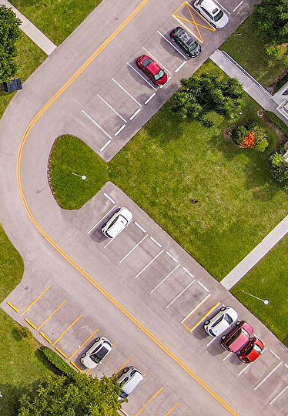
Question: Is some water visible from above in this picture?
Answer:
No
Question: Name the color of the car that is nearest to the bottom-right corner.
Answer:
red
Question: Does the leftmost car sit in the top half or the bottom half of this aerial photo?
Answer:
bottom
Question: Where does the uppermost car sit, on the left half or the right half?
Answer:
right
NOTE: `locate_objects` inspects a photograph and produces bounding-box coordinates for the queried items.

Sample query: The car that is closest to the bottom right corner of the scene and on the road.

[236,335,267,366]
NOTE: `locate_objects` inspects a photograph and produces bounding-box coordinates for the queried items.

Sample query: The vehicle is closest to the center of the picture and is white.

[100,206,135,240]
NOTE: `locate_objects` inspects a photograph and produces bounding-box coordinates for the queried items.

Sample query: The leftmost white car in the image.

[81,336,115,369]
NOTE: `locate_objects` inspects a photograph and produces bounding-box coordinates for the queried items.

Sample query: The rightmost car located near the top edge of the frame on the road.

[192,0,231,29]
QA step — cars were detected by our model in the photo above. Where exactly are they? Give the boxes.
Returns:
[81,336,115,369]
[168,25,202,58]
[100,206,135,240]
[236,335,267,366]
[204,303,239,339]
[134,52,169,87]
[192,0,231,29]
[113,365,148,401]
[219,318,257,355]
